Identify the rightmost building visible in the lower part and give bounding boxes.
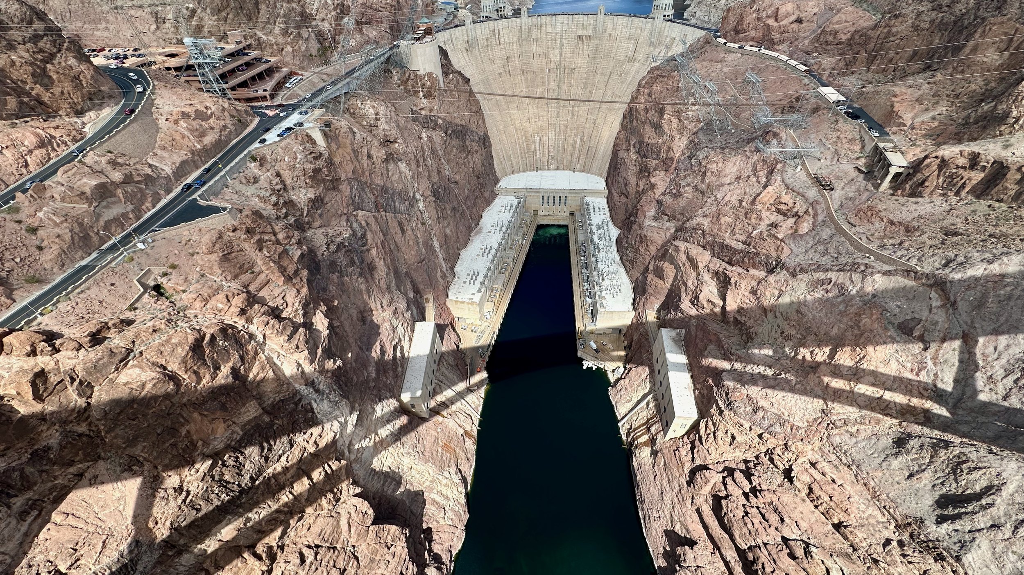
[645,328,697,446]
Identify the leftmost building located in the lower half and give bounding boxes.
[401,322,441,423]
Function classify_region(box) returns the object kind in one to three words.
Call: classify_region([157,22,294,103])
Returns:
building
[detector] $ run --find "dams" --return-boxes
[432,10,726,206]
